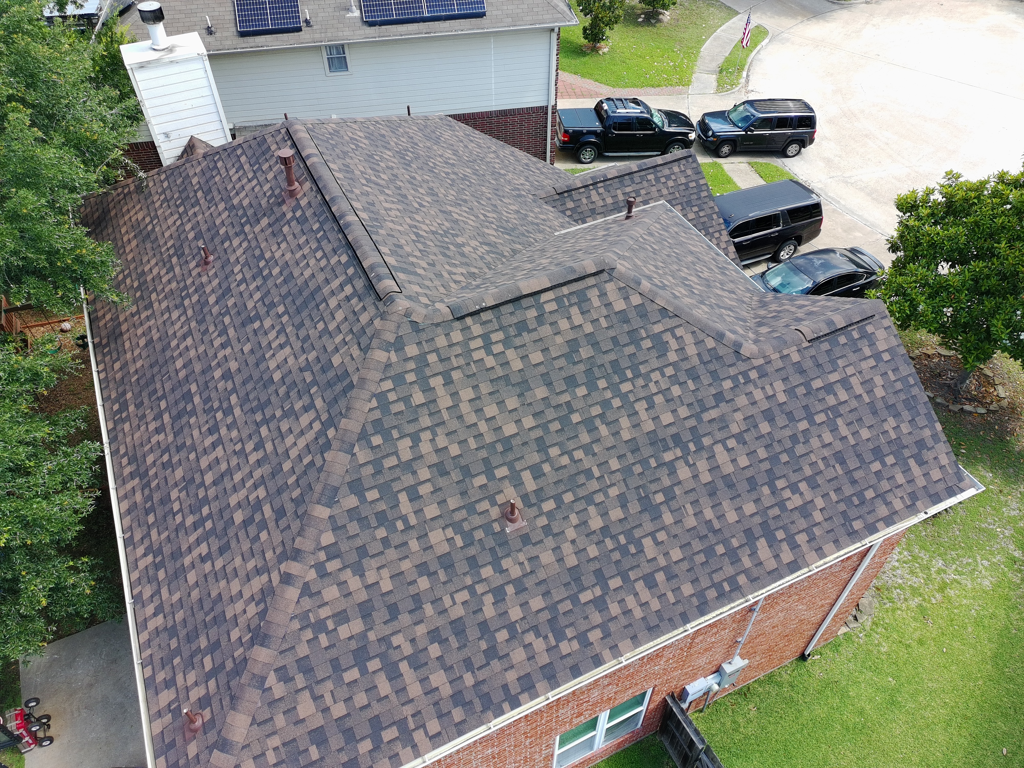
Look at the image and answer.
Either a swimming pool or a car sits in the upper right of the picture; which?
car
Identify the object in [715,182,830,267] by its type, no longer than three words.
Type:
car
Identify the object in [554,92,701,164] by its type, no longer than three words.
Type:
vehicle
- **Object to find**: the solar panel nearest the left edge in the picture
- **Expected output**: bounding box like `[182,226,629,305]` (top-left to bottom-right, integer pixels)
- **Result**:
[236,0,303,38]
